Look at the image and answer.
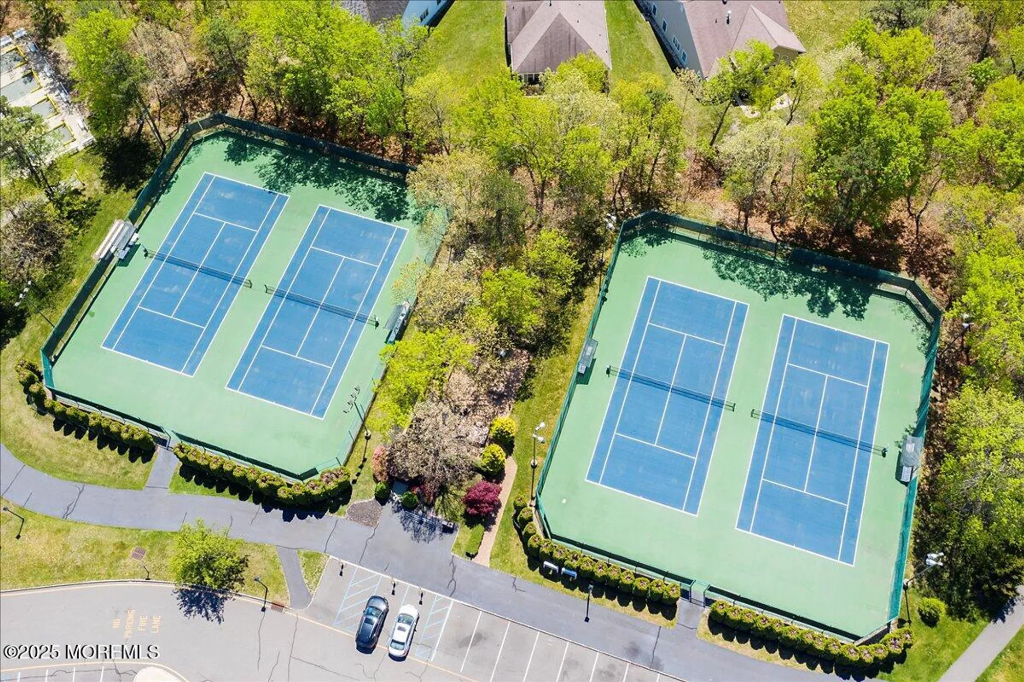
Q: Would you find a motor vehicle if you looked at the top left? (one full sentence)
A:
No, the scene shows no motor vehicle at the top left.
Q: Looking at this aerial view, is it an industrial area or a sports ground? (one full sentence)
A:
What you see here is a sports ground.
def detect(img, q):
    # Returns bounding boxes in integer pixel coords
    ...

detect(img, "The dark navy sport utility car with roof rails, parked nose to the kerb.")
[356,596,386,650]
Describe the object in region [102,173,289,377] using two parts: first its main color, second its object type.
blue tennis court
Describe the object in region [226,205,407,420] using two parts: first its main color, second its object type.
blue tennis court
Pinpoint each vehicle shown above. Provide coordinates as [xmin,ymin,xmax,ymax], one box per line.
[356,596,386,650]
[388,605,418,660]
